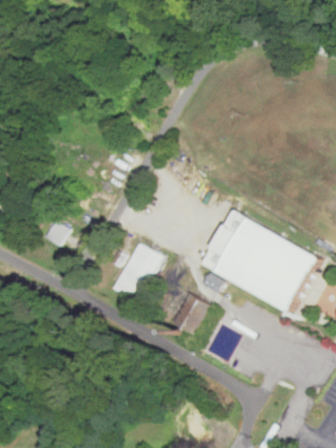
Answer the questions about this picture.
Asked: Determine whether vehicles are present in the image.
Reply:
Yes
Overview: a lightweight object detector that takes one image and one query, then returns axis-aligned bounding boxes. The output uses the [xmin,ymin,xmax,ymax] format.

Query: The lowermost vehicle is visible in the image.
[261,424,279,448]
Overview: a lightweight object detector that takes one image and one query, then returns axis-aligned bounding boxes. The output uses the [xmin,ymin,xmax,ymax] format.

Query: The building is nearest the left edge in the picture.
[46,220,74,248]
